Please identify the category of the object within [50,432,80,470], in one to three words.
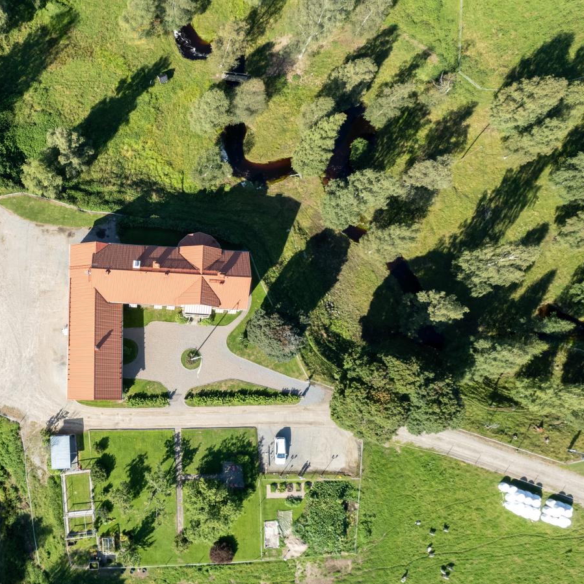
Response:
shed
